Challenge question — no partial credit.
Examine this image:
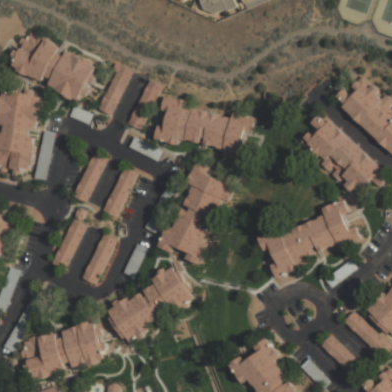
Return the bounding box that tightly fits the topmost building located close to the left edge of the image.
[16,36,96,98]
